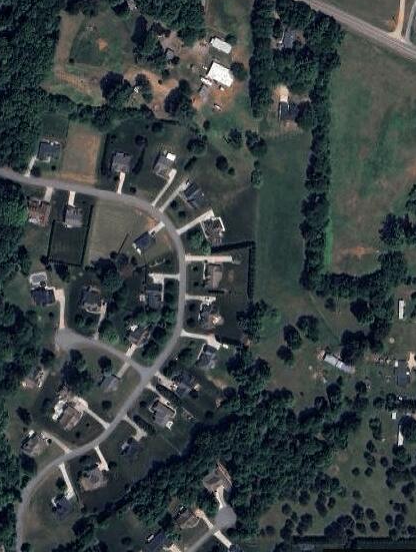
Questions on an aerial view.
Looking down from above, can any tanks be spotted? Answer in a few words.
No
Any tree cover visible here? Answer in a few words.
Yes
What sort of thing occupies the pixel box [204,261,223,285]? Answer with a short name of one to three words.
house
